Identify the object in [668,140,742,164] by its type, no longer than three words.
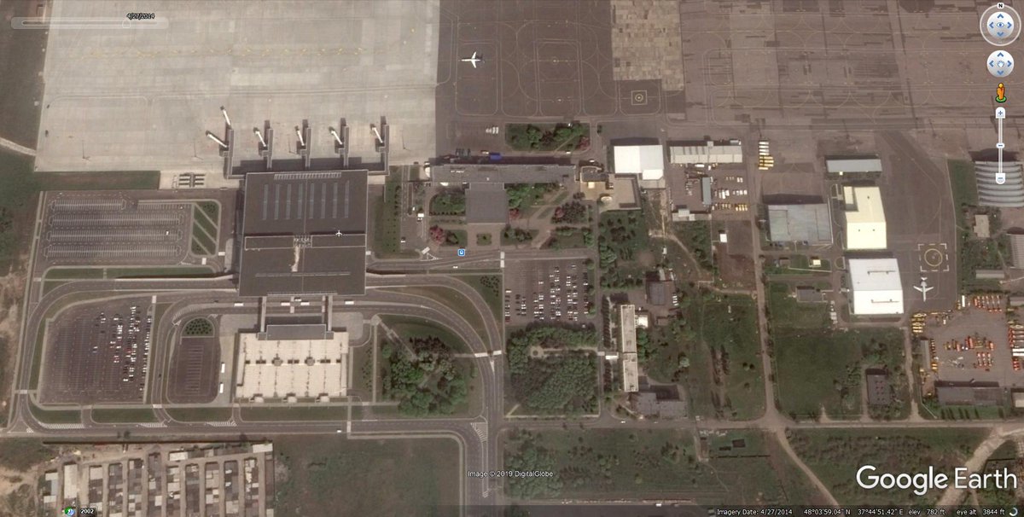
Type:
shed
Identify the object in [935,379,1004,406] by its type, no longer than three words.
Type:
building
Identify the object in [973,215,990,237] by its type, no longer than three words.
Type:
building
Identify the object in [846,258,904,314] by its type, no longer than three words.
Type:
hangar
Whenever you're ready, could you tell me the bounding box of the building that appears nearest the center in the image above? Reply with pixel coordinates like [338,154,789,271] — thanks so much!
[463,183,509,224]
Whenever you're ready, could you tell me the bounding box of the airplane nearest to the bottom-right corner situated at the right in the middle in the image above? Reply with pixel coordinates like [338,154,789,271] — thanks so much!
[914,279,934,303]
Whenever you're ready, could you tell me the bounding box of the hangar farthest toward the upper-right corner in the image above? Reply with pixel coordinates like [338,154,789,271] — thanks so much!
[972,160,1022,209]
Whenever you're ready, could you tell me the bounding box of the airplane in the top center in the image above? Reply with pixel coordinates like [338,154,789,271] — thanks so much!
[462,53,484,69]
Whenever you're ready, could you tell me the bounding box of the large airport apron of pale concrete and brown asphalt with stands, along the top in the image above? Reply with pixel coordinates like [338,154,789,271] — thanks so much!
[35,0,1024,331]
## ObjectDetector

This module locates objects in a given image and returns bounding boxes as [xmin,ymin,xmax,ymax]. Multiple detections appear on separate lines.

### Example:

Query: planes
[462,53,484,69]
[914,279,934,303]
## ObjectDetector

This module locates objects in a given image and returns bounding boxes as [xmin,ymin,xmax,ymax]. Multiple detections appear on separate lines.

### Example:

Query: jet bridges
[254,127,267,148]
[370,123,384,145]
[294,126,306,148]
[328,126,343,147]
[220,106,232,128]
[205,131,228,149]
